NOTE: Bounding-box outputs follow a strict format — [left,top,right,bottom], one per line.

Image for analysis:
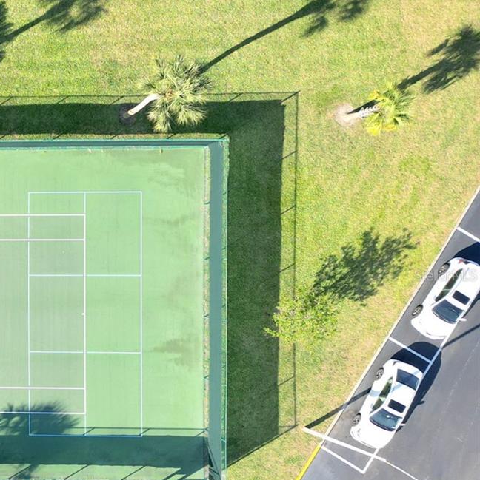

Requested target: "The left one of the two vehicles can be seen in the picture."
[355,359,423,448]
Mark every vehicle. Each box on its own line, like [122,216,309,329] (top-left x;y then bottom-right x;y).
[413,253,480,340]
[355,359,423,448]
